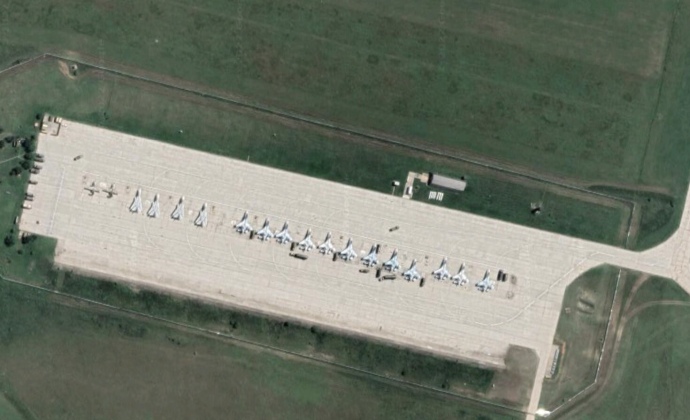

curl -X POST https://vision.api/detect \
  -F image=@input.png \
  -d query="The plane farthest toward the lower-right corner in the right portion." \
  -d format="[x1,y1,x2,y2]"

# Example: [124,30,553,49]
[477,270,493,294]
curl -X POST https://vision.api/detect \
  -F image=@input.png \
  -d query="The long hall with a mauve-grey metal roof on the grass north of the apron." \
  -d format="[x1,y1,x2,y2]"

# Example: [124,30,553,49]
[430,175,467,191]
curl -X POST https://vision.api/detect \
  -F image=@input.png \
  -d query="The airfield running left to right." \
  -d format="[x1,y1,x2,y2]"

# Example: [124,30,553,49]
[19,113,690,367]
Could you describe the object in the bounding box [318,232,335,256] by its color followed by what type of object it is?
white airplane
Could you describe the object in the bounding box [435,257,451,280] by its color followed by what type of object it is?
white airplane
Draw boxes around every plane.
[129,189,142,214]
[195,203,207,228]
[404,260,420,283]
[363,245,380,268]
[147,194,159,218]
[83,181,99,198]
[102,183,117,200]
[235,212,251,235]
[477,270,493,294]
[172,196,185,221]
[299,229,315,251]
[384,250,401,273]
[340,237,356,262]
[318,232,335,256]
[453,264,469,287]
[256,218,272,242]
[435,257,451,280]
[275,222,291,245]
